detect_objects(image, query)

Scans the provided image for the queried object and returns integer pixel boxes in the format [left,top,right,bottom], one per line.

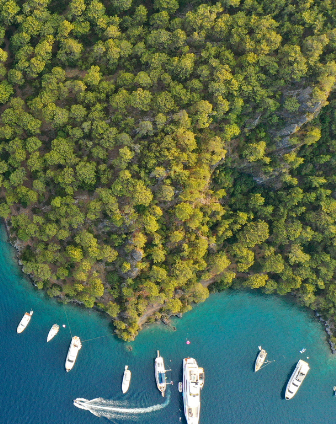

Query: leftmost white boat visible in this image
[18,311,32,332]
